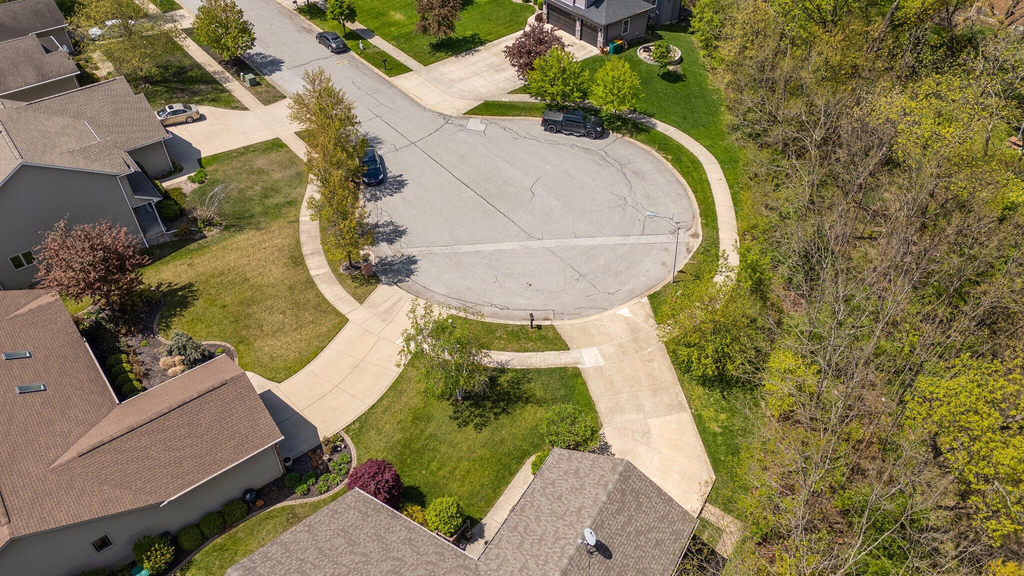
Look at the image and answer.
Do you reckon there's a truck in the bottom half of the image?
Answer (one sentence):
No, I can find no truck in the bottom half of the image.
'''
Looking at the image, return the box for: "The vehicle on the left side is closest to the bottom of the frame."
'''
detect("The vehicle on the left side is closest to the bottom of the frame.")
[360,146,385,182]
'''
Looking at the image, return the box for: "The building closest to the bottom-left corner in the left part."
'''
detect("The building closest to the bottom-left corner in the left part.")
[0,289,286,576]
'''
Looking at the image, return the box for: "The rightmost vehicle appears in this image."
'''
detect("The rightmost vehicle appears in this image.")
[541,107,606,139]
